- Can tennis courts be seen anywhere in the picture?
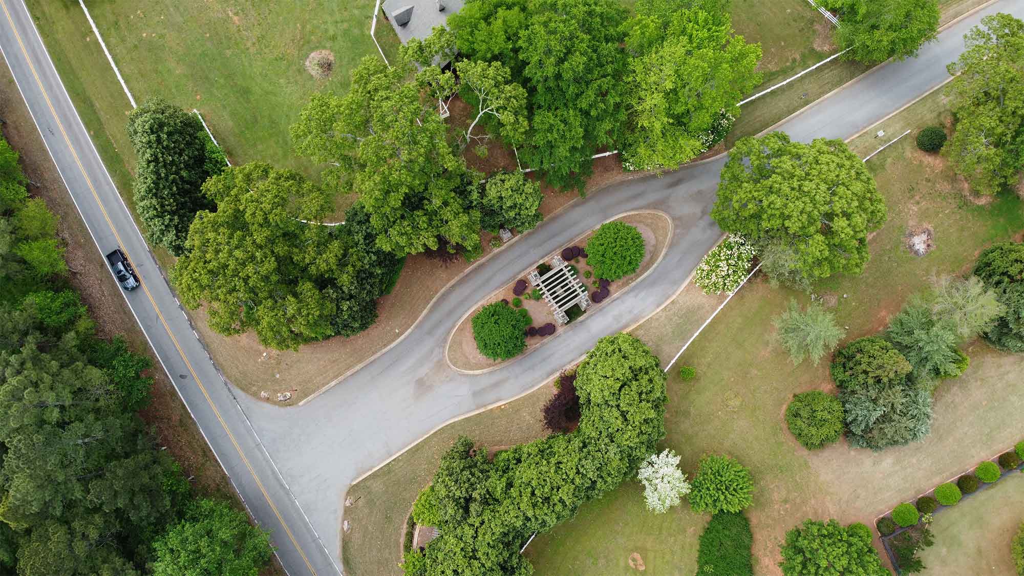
No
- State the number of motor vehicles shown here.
one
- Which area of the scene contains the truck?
left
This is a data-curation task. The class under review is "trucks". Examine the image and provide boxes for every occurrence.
[108,249,140,289]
